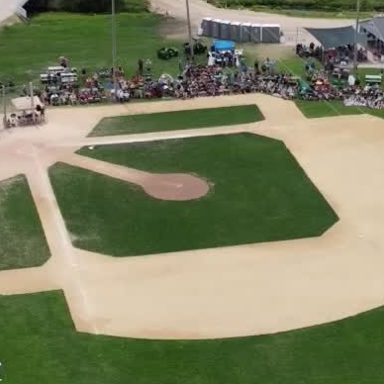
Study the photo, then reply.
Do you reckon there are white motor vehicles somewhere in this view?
No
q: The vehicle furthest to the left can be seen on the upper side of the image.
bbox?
[157,41,179,59]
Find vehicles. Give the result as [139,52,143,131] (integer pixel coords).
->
[157,41,179,59]
[186,35,208,54]
[182,39,195,57]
